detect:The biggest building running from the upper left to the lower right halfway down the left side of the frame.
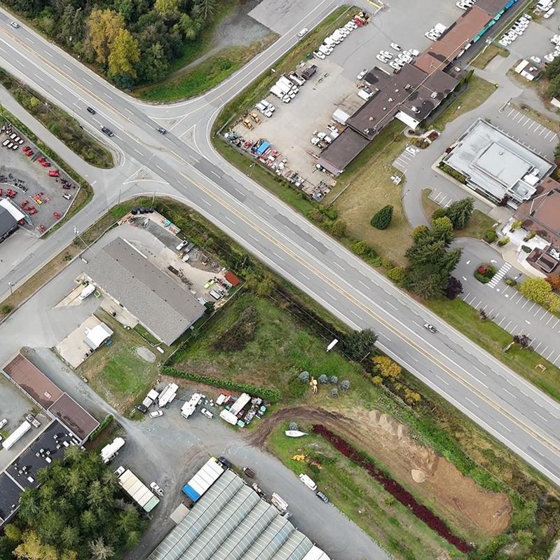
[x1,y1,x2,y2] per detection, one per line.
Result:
[82,237,206,348]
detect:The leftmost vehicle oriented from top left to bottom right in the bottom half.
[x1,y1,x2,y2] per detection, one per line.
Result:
[24,413,42,427]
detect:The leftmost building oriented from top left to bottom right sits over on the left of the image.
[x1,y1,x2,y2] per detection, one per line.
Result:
[3,354,65,418]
